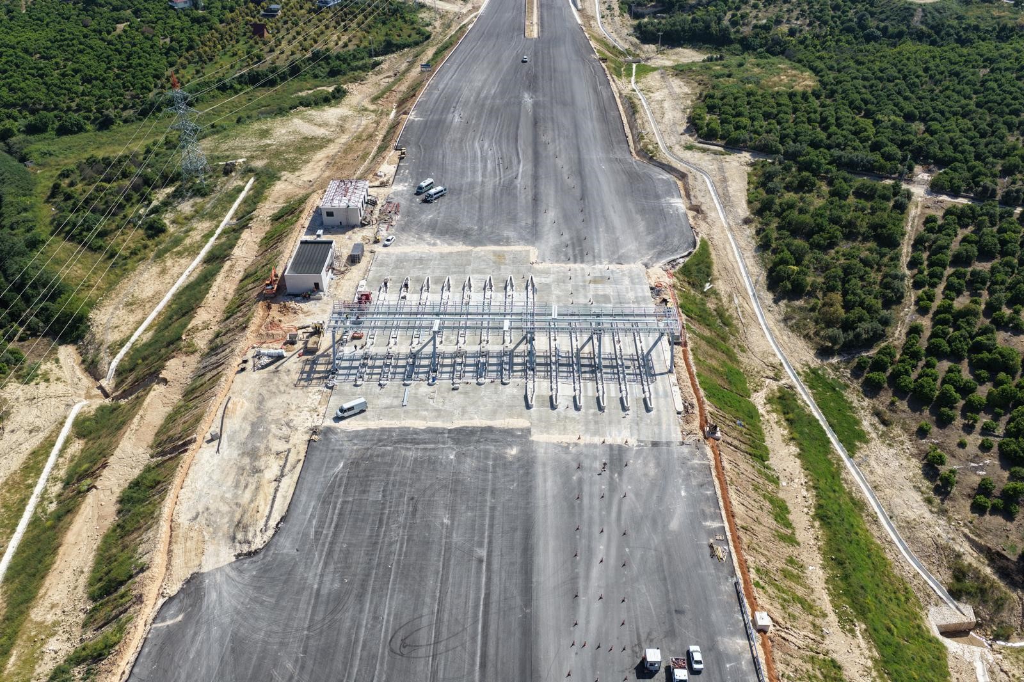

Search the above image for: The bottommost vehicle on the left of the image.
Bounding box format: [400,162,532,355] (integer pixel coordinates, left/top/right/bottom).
[336,394,368,417]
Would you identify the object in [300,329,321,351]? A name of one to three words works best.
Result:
truck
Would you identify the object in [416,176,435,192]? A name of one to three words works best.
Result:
vehicle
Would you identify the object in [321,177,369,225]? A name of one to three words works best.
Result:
building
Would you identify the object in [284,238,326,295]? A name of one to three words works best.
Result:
building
